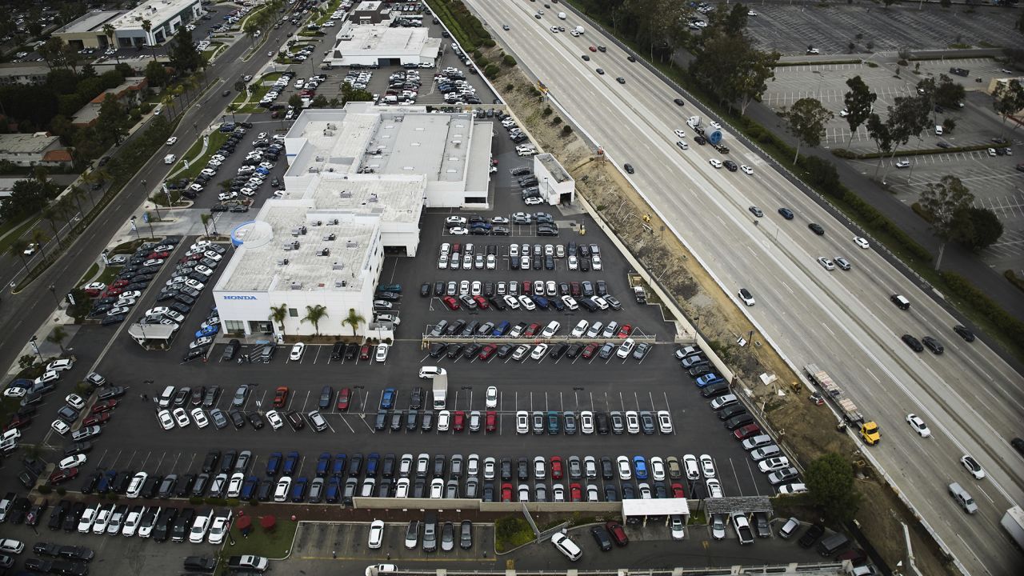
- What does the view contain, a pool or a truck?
truck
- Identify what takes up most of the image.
paved ground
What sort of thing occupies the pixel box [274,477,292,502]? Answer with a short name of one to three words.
car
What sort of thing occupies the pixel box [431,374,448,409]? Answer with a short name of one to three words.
vehicle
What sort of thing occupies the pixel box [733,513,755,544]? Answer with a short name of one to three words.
truck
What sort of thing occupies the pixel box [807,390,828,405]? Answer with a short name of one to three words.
work vehicle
